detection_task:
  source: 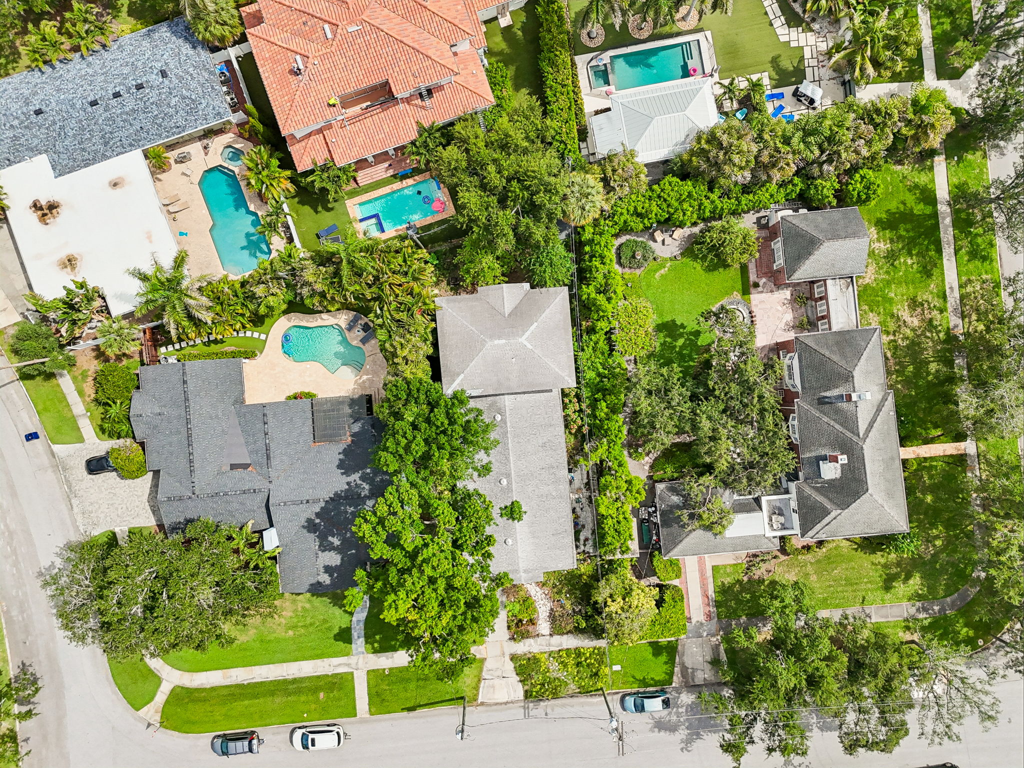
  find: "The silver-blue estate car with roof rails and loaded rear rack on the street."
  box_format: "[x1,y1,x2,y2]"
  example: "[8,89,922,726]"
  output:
[209,729,263,760]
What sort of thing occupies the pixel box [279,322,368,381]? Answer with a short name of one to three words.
swimming pool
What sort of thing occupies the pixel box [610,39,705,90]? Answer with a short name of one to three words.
swimming pool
